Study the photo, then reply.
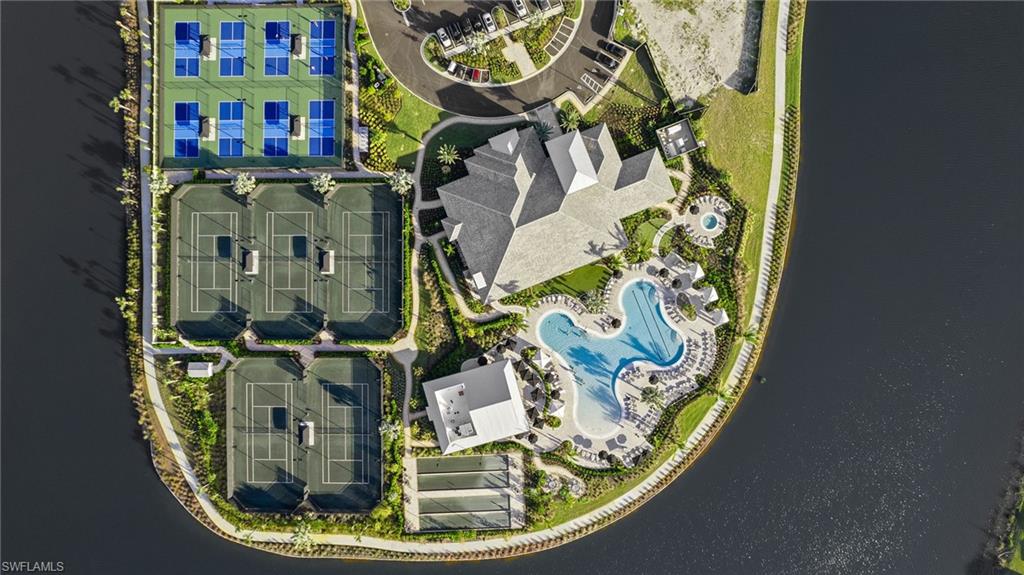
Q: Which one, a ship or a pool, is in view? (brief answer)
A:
pool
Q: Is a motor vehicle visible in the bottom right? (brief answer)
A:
No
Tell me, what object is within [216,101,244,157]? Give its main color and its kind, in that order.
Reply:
blue sports court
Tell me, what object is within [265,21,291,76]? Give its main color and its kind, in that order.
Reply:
blue sports court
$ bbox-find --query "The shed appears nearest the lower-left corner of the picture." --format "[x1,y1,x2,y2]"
[186,362,215,377]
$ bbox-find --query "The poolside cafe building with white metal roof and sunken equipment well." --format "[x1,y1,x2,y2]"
[423,360,529,455]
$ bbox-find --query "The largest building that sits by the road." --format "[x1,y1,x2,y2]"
[437,122,677,304]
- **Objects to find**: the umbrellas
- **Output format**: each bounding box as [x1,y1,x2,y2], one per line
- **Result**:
[629,451,643,465]
[477,356,487,366]
[598,449,608,459]
[544,372,554,382]
[528,433,538,443]
[532,415,546,429]
[530,388,544,402]
[525,405,539,419]
[526,371,540,385]
[688,205,699,215]
[496,343,506,353]
[659,268,669,278]
[550,389,561,399]
[640,448,651,458]
[613,268,623,279]
[607,452,617,463]
[511,357,524,371]
[671,278,681,288]
[505,337,519,351]
[611,318,621,329]
[648,374,658,384]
